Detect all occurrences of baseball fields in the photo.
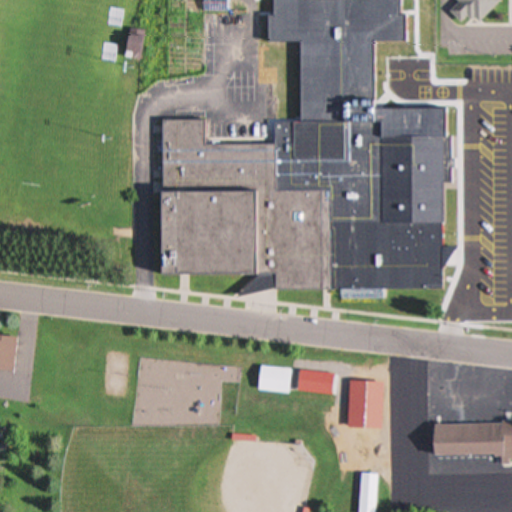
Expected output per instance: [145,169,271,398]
[222,440,316,512]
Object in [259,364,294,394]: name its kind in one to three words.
shed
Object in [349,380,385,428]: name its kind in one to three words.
barn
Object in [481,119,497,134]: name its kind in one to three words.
vehicle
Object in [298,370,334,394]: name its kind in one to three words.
shed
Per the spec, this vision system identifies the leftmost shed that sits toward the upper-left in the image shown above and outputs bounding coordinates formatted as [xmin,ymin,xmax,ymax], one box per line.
[125,29,146,60]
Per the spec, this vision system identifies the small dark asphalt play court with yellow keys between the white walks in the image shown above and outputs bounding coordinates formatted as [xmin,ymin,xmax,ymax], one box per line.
[390,59,464,99]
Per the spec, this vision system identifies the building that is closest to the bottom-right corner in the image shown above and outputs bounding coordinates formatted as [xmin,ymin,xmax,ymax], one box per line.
[433,416,512,468]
